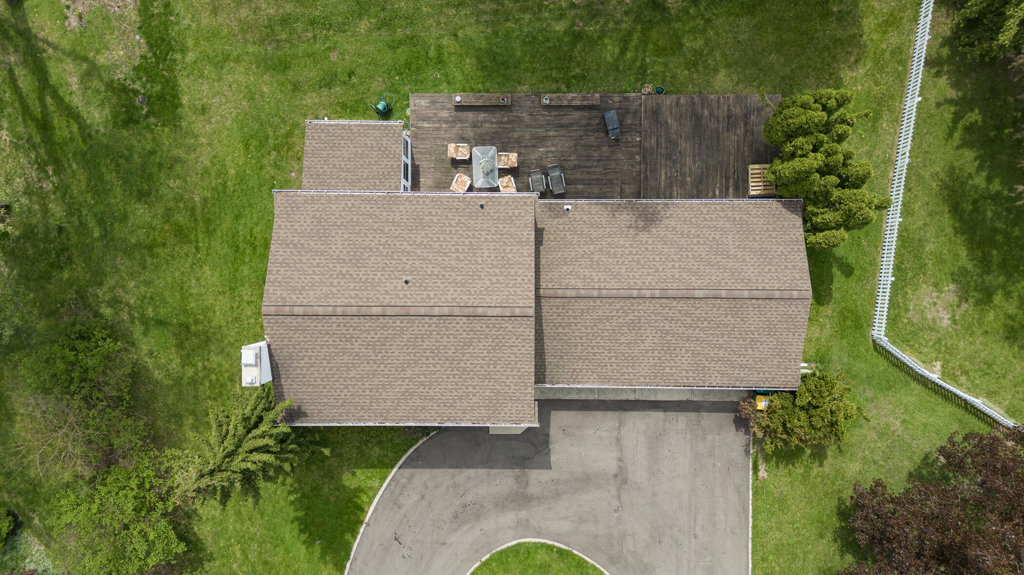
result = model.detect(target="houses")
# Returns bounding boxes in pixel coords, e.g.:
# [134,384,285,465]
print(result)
[242,119,813,434]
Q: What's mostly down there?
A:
grass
